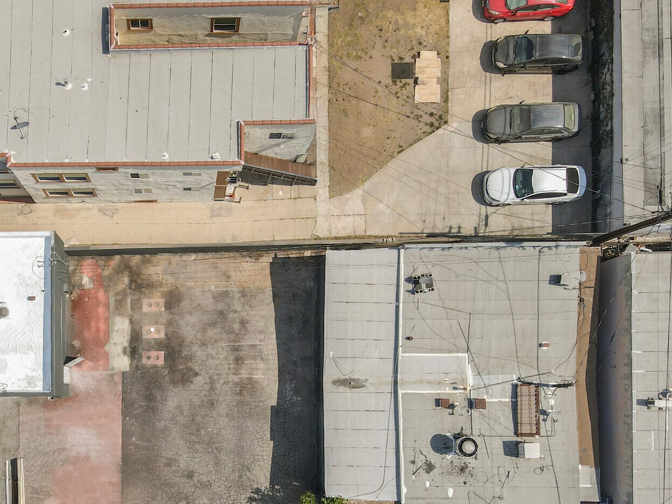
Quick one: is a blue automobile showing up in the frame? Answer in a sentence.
No, there is no blue automobile in the image.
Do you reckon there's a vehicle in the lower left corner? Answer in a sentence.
No, I can find no vehicle in the lower left corner.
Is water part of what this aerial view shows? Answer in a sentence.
No, there is no water in the image.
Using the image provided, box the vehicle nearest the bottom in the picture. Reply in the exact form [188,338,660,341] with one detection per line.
[485,160,587,206]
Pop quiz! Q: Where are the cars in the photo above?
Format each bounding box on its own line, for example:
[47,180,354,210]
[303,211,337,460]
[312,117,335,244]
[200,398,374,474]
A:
[495,28,585,76]
[485,160,587,206]
[484,98,582,144]
[484,0,576,24]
